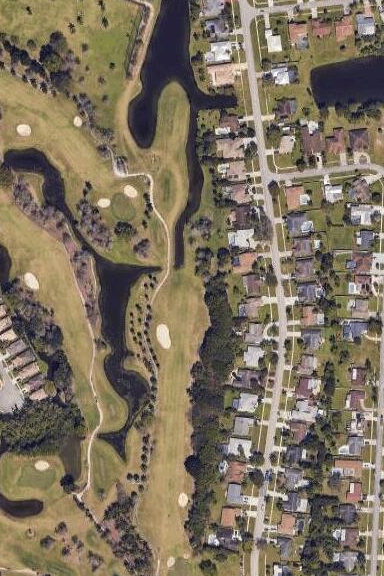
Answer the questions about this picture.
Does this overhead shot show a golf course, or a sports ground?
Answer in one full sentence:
It's a golf course.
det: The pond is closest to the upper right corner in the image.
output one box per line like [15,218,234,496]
[311,53,384,111]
